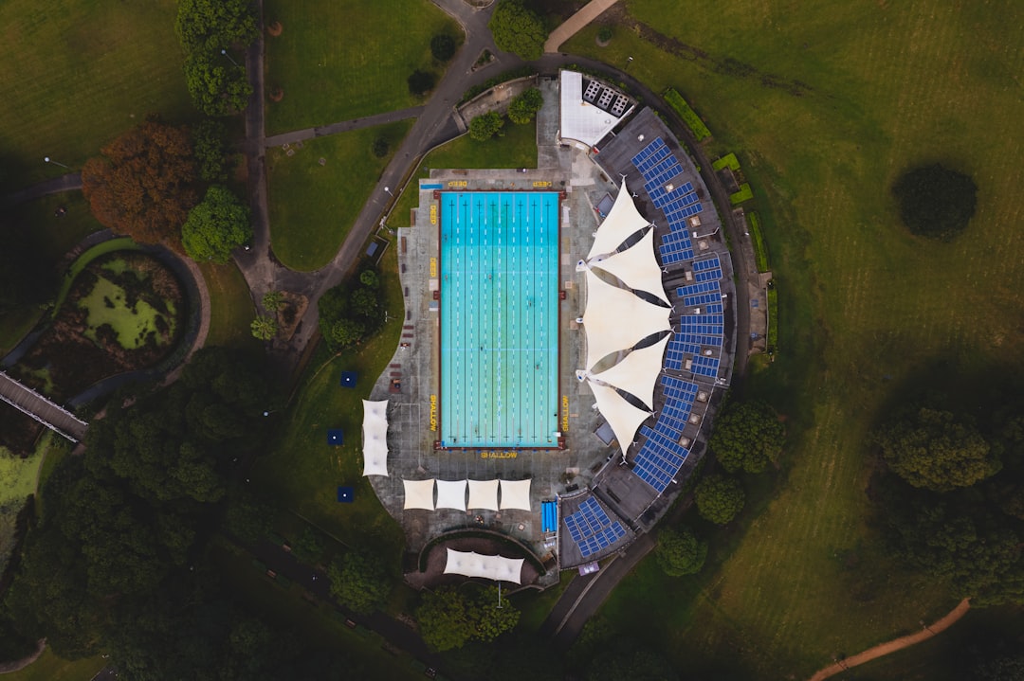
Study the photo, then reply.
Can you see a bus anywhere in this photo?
No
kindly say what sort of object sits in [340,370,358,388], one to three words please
umbrella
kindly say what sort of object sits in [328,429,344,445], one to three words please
umbrella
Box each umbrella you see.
[328,429,344,445]
[337,486,354,503]
[340,370,358,388]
